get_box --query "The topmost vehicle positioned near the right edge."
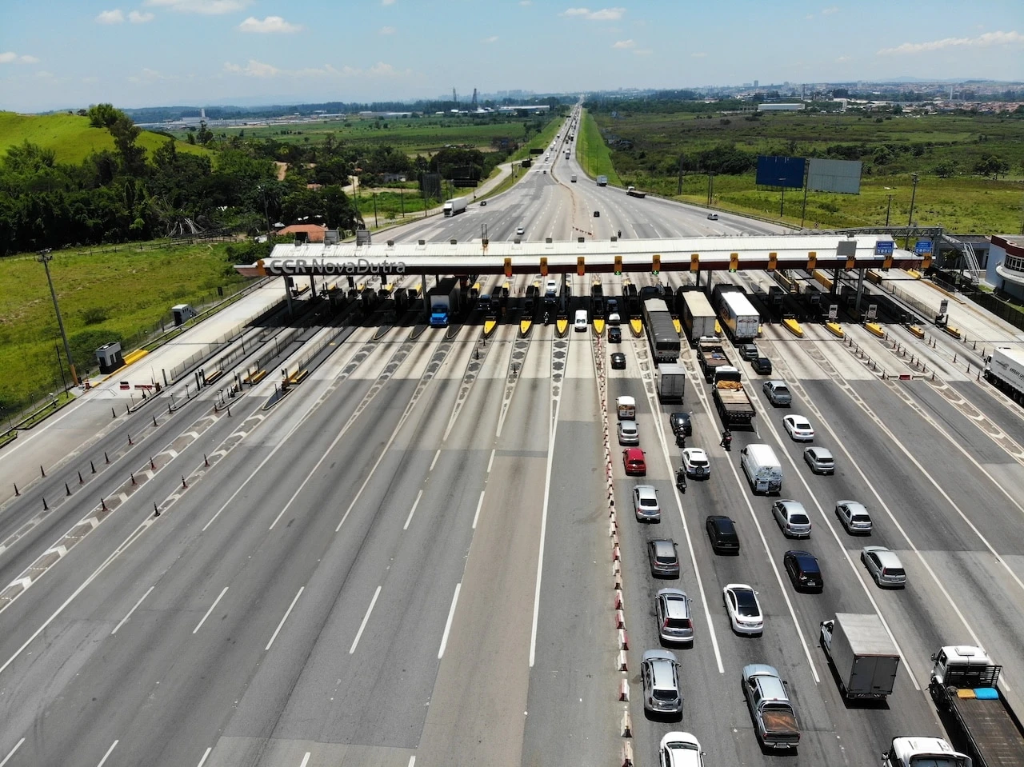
[982,351,1024,401]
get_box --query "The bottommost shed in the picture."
[87,345,127,378]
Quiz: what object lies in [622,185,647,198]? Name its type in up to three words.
vehicle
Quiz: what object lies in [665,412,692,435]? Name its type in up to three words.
car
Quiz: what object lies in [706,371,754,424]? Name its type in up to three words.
truck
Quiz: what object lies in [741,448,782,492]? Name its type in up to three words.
van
